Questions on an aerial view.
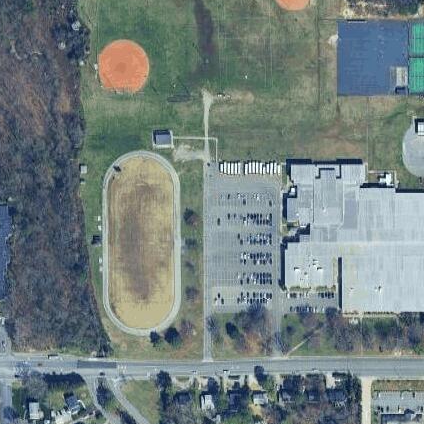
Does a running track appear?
Yes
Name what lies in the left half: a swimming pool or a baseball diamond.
baseball diamond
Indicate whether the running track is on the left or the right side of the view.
left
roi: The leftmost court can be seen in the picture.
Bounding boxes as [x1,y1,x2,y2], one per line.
[337,20,408,95]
